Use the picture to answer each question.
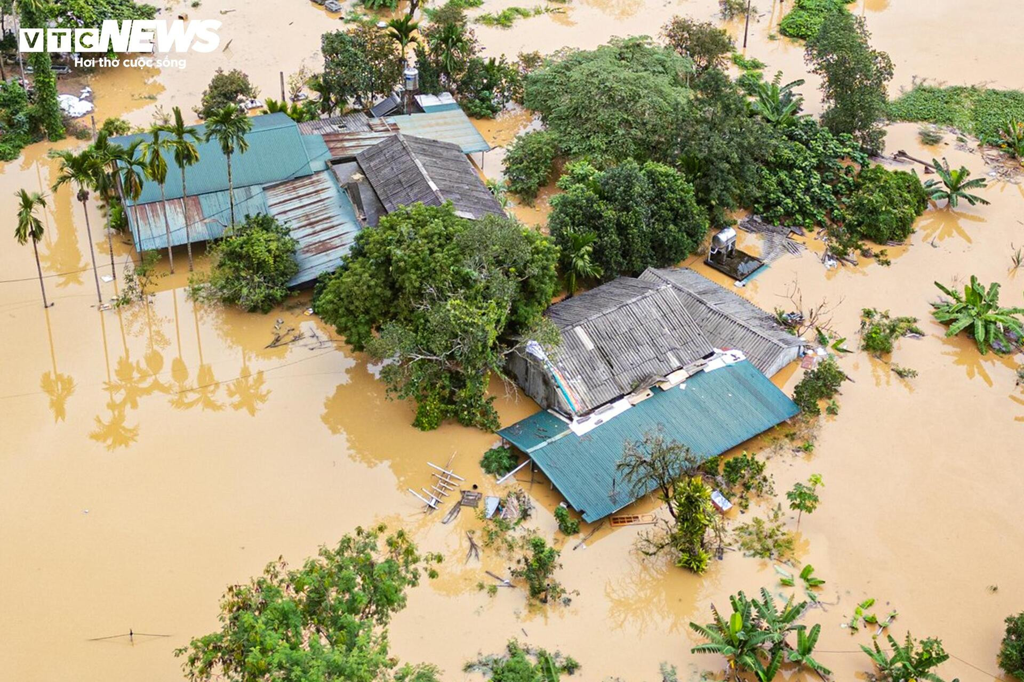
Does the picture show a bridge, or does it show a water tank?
water tank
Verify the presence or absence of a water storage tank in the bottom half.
No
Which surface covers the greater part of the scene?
water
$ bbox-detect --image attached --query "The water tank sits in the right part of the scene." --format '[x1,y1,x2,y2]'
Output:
[707,222,743,259]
